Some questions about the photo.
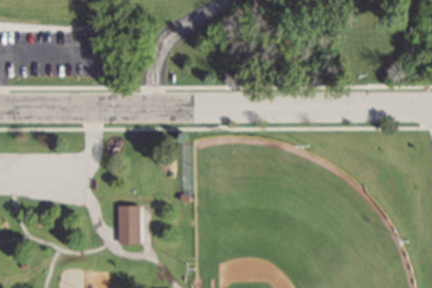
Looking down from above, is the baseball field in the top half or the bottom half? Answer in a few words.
bottom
